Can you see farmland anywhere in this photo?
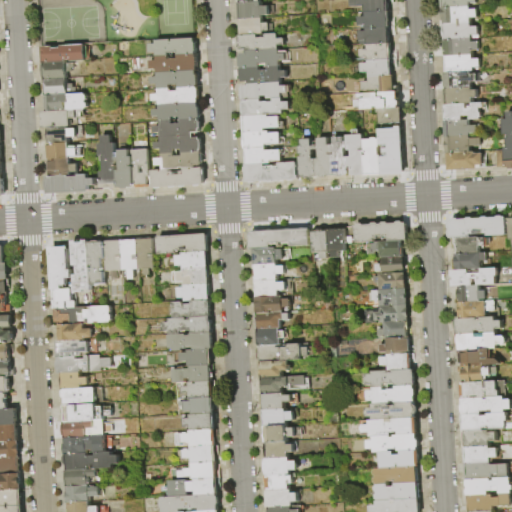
No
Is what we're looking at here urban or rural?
urban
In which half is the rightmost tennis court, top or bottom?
top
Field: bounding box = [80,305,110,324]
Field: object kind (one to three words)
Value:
building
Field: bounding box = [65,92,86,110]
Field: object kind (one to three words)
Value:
building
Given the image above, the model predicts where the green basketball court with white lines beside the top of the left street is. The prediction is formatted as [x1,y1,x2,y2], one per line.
[42,4,102,42]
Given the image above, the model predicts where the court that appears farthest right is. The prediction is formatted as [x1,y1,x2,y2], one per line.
[159,0,194,34]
